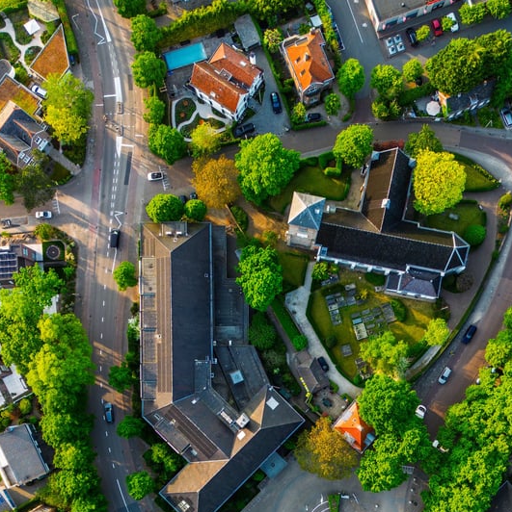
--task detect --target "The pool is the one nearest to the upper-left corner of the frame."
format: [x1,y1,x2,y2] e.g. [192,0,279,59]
[166,44,205,66]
